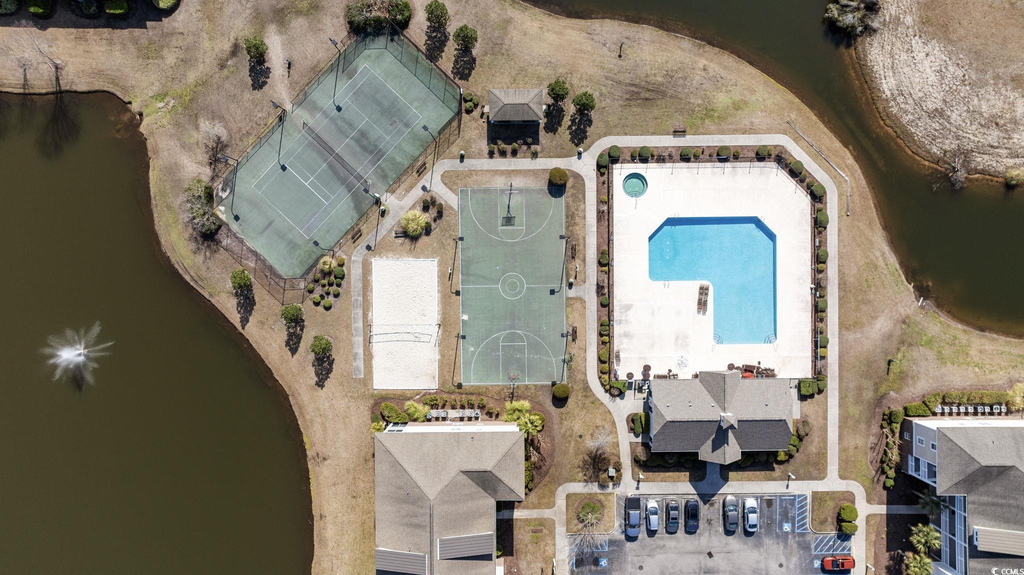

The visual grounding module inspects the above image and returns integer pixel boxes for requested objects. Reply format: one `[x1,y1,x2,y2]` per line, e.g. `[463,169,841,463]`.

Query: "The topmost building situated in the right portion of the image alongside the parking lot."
[649,371,796,463]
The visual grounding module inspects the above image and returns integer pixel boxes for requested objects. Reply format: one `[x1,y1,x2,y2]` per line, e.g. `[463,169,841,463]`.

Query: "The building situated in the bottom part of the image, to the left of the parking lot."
[373,422,525,575]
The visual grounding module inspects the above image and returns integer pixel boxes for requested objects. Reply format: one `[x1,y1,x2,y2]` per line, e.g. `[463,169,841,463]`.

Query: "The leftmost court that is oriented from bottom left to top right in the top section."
[215,30,458,277]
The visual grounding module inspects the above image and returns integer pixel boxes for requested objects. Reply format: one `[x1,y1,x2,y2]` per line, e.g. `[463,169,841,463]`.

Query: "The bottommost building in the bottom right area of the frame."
[903,418,1024,575]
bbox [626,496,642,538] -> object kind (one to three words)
vehicle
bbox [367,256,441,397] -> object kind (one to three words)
sports court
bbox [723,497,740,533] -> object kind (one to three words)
car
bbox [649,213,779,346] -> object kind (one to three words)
swimming pool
